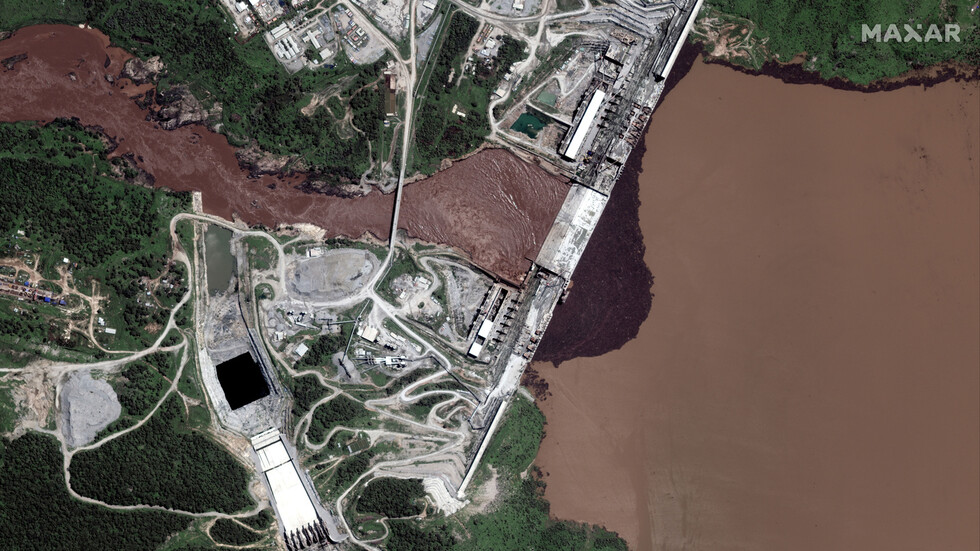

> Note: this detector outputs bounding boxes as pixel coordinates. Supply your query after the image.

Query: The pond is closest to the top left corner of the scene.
[206,222,238,297]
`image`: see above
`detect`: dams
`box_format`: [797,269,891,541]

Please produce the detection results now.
[456,0,703,499]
